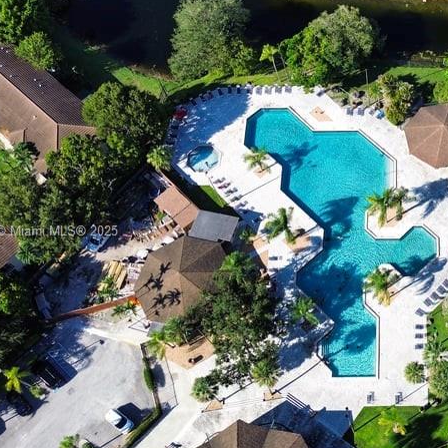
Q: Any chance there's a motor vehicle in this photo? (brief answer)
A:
Yes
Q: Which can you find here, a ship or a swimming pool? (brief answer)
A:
swimming pool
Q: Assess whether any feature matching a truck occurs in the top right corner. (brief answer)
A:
No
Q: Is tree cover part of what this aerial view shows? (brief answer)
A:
Yes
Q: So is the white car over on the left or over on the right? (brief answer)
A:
left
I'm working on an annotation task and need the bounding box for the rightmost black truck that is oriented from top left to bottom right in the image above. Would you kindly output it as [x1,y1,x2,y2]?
[29,356,62,391]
